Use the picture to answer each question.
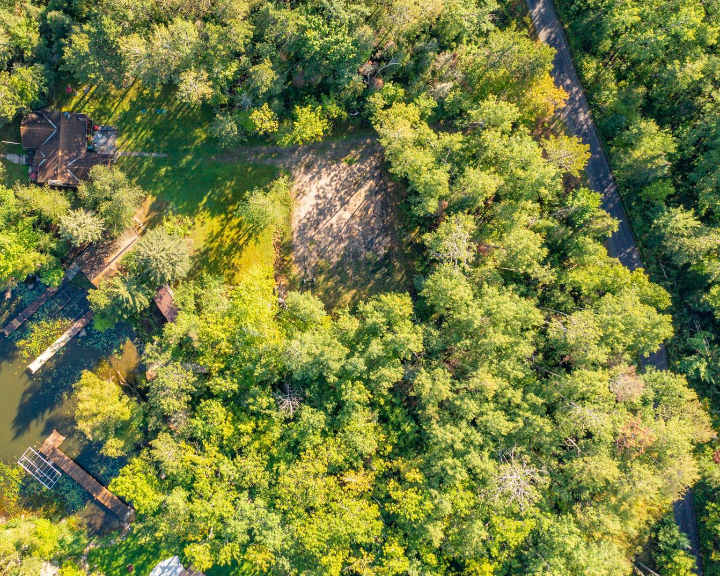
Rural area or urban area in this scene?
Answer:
rural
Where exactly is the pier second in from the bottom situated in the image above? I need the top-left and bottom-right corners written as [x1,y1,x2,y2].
[26,311,95,374]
